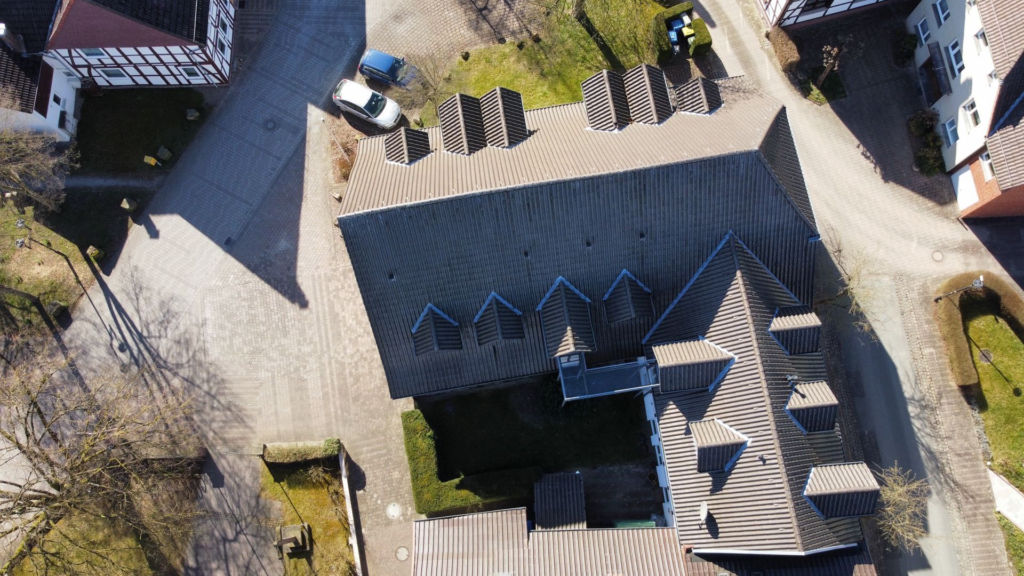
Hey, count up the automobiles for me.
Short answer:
2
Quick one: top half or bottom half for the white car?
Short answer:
top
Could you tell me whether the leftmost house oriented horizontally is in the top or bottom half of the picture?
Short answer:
top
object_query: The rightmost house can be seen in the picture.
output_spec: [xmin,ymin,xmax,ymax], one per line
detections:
[899,0,1024,215]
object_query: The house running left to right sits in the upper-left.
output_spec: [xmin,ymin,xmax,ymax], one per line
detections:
[39,0,235,84]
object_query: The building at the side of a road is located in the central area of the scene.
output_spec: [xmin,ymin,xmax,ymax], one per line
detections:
[337,62,882,561]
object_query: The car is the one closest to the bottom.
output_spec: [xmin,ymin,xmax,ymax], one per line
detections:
[329,80,407,132]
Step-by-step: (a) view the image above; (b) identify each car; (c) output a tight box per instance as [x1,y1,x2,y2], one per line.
[352,47,424,99]
[329,80,407,132]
